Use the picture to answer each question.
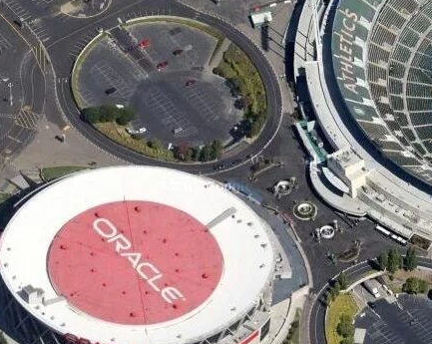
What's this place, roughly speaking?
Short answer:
sports ground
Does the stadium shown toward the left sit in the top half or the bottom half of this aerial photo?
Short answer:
bottom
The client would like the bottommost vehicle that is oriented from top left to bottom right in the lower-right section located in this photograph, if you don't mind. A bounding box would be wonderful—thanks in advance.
[368,280,381,294]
